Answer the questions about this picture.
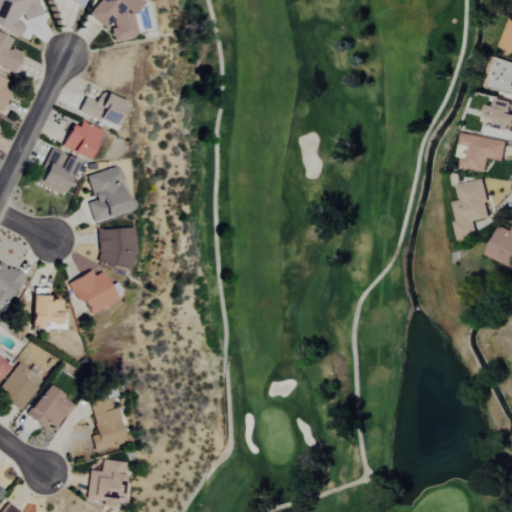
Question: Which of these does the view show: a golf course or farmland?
golf course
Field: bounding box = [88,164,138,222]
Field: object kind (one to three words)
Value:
house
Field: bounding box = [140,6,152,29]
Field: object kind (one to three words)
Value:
swimming pool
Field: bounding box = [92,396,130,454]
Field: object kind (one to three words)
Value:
house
